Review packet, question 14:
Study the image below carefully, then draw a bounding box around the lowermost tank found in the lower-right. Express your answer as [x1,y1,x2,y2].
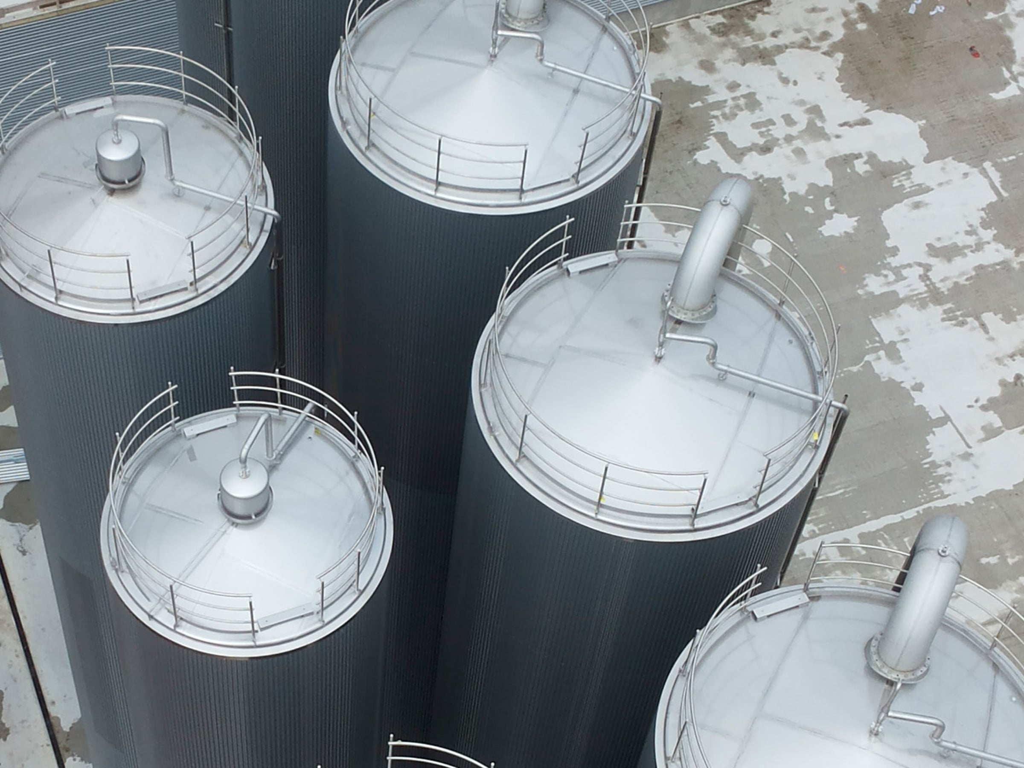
[644,513,1024,768]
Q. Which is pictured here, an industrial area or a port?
industrial area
